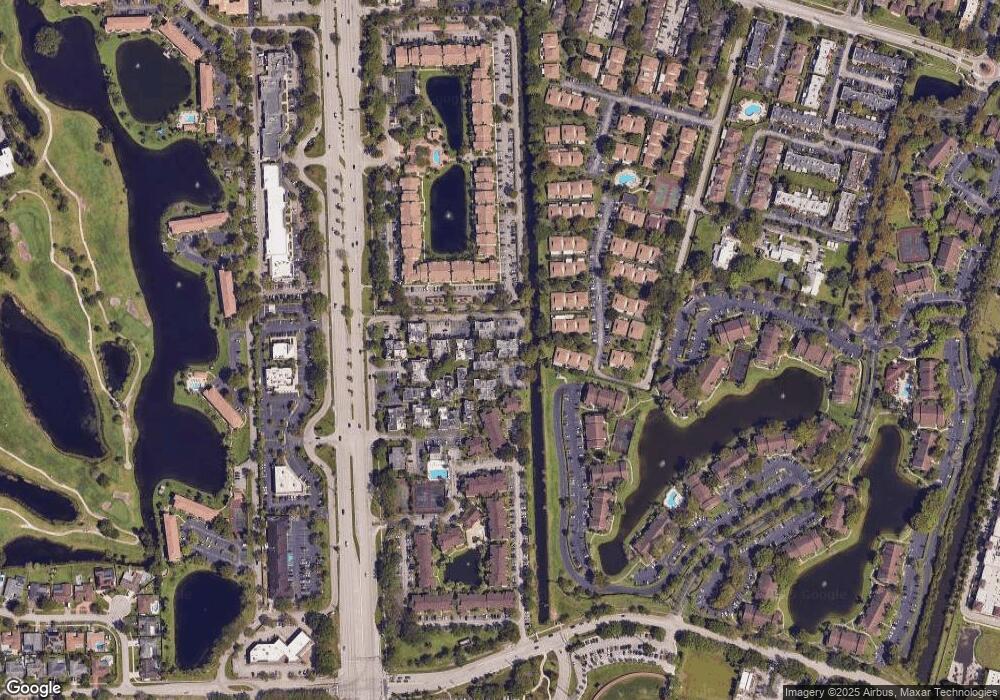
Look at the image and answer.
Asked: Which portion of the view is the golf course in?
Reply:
left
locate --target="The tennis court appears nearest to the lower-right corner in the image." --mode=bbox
[730,348,751,383]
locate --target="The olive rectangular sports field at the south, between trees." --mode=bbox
[682,650,737,700]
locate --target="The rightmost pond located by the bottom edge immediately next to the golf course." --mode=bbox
[175,571,242,670]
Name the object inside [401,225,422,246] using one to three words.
building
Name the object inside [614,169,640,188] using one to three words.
swimming pool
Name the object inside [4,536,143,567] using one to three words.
pond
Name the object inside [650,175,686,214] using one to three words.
tennis court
